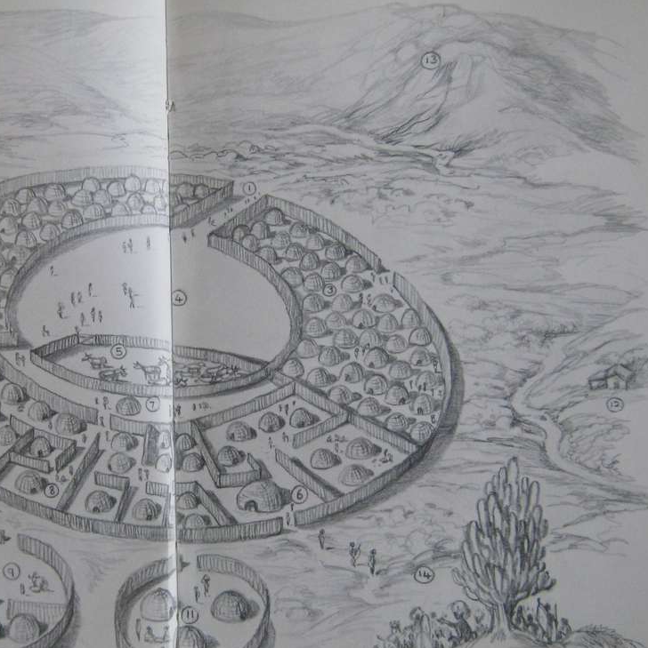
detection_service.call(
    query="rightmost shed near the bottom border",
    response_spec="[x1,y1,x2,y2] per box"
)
[211,587,249,624]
